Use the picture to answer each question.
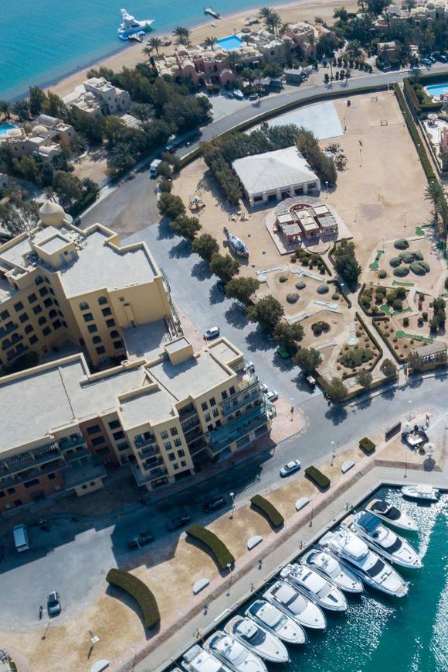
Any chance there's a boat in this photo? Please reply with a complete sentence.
Yes, the image includes a boat.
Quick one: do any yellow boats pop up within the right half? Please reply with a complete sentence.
No, I can find no yellow boat within the right half.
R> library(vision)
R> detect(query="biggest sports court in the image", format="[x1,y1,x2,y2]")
[259,100,343,140]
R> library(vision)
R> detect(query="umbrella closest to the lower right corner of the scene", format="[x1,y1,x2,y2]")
[422,440,437,456]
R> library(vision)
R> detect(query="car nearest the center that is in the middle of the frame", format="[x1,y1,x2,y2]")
[201,326,221,339]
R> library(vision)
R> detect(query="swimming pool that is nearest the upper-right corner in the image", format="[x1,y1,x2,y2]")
[423,83,448,99]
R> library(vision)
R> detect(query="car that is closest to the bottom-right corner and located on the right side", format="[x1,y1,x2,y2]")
[277,459,303,476]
